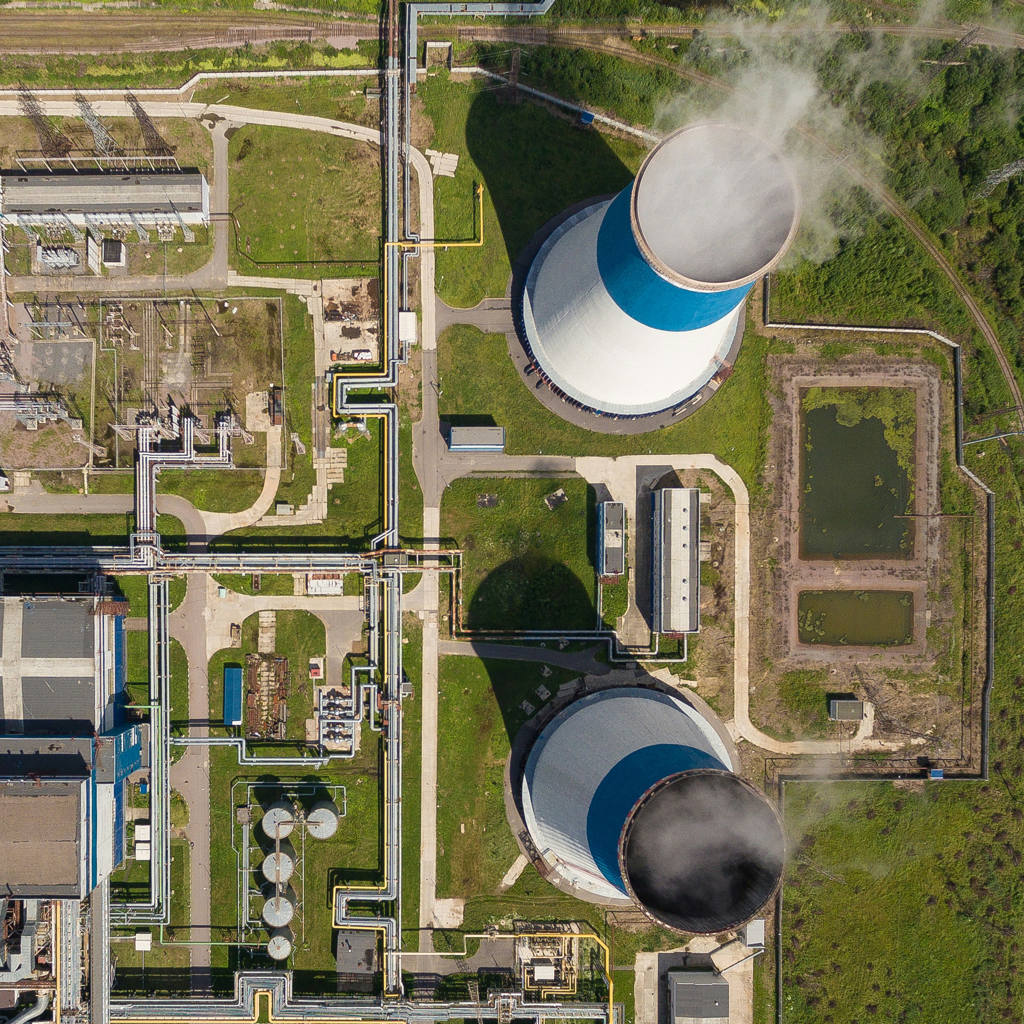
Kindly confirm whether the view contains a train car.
No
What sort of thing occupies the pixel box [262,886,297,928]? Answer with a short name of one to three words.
storage tank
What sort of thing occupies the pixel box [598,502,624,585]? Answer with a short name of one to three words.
building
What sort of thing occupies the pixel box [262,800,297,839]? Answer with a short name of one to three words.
storage tank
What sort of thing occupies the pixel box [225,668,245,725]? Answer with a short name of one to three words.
shed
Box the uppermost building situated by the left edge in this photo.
[0,174,208,225]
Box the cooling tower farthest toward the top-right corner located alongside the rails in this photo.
[507,122,801,435]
